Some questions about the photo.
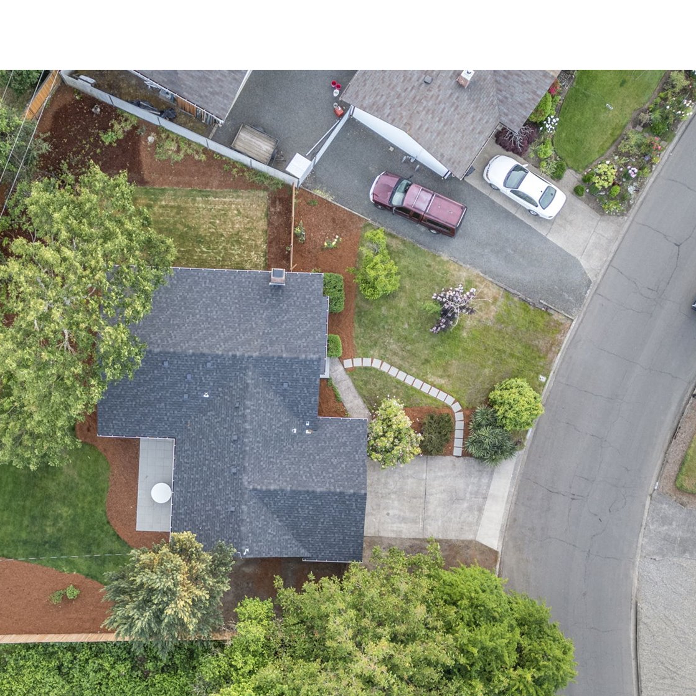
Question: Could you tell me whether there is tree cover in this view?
Yes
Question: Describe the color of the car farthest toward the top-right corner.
white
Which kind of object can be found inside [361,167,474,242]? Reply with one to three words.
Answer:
truck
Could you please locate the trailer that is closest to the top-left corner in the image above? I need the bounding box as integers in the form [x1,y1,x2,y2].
[230,121,286,162]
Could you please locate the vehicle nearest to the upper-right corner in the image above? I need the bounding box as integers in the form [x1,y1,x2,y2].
[478,151,575,223]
